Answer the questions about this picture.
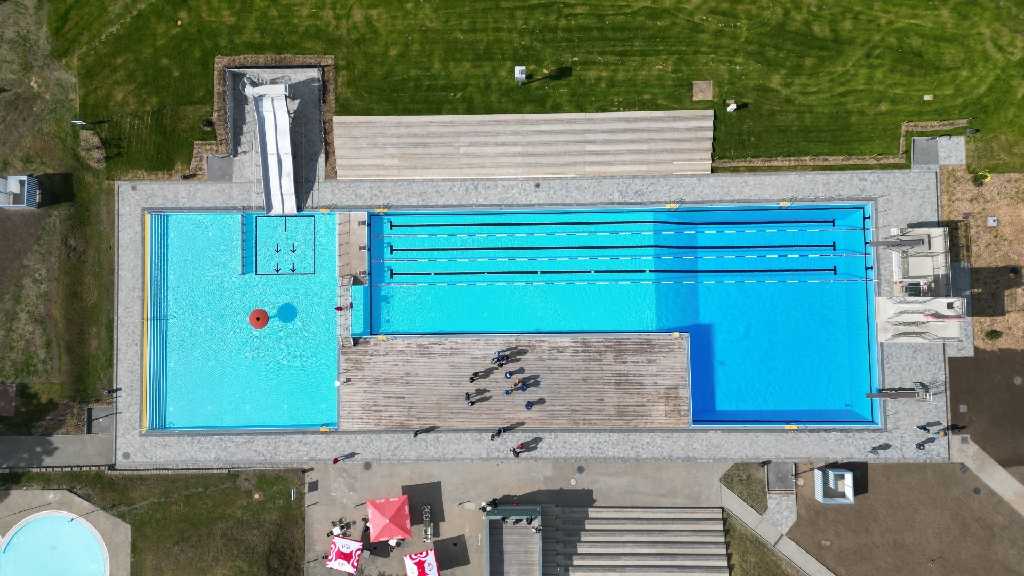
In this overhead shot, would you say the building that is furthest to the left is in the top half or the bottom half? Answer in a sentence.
The building that is furthest to the left is in the top half of the image.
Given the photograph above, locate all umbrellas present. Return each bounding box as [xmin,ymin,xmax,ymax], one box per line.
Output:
[366,495,412,543]
[404,548,440,576]
[326,535,364,574]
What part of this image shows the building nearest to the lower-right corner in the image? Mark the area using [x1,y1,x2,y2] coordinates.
[815,467,857,503]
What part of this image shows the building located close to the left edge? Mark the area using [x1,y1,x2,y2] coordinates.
[0,174,39,208]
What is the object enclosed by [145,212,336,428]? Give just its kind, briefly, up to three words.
swimming pool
